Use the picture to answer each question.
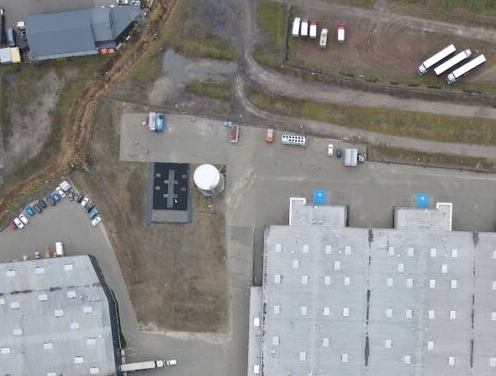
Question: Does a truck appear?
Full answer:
Yes, a truck appears in the view.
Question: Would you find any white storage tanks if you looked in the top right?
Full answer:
No, there is no white storage tank in the top right.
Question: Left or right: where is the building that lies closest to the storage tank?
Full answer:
The building that lies closest to the storage tank appears in the left half of the scene.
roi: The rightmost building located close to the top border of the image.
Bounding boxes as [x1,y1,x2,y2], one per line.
[92,2,146,48]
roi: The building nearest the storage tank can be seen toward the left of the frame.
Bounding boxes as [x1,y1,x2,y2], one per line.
[146,163,193,224]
